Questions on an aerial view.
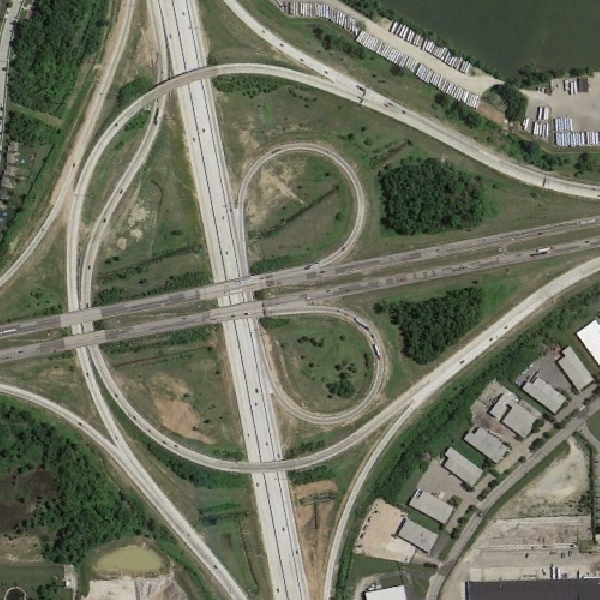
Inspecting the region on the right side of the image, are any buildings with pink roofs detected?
No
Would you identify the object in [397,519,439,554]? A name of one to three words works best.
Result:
building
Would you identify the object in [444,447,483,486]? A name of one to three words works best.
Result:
building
